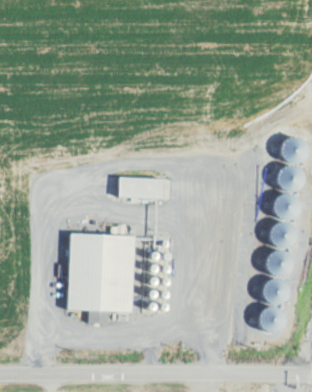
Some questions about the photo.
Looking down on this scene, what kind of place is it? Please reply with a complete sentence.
It's an industrial area.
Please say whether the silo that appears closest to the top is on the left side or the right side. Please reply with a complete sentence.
The silo that appears closest to the top appears in the right half of the scene.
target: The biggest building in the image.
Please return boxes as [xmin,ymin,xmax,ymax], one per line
[66,233,136,324]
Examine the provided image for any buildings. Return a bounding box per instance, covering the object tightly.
[118,177,170,200]
[66,233,136,324]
